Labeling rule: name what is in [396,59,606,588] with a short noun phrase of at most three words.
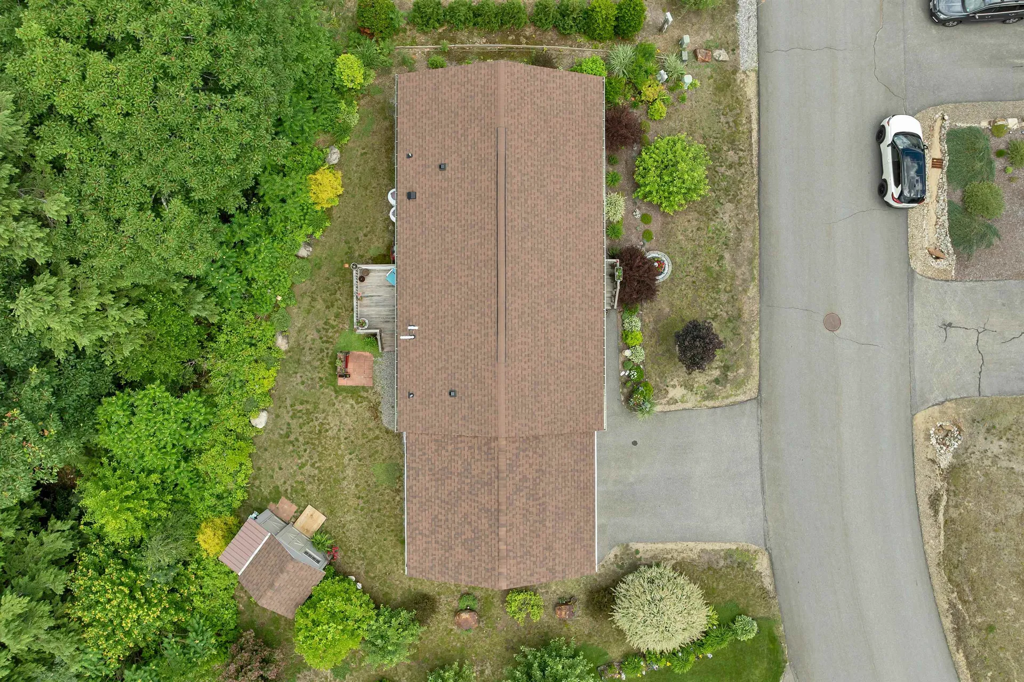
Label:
house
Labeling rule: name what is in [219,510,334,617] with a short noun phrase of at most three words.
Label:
shed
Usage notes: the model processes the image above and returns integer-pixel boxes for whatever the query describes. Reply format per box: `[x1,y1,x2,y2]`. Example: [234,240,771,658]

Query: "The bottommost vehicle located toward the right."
[872,115,929,210]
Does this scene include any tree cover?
Yes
